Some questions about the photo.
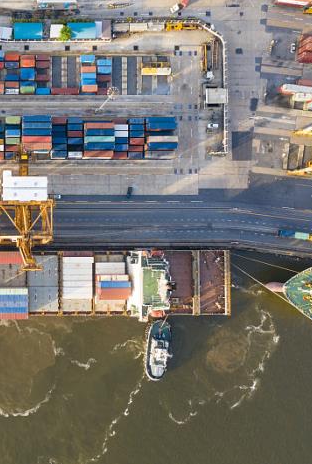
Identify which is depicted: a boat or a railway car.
boat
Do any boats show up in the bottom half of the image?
Yes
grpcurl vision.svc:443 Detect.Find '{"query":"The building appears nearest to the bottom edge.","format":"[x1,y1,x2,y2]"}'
[201,87,229,105]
